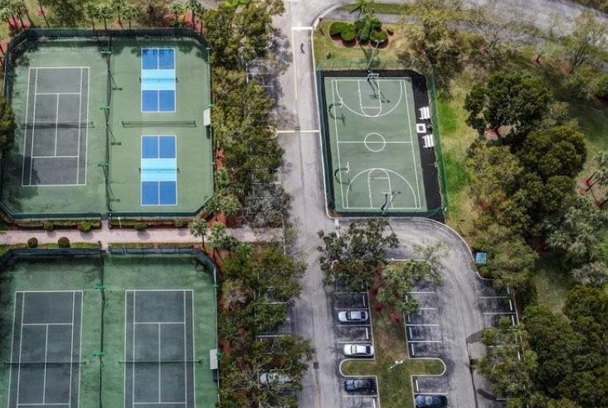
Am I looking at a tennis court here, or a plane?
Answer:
tennis court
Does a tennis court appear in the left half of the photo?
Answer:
Yes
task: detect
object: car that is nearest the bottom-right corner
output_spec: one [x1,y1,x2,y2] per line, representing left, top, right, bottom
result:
[415,394,446,408]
